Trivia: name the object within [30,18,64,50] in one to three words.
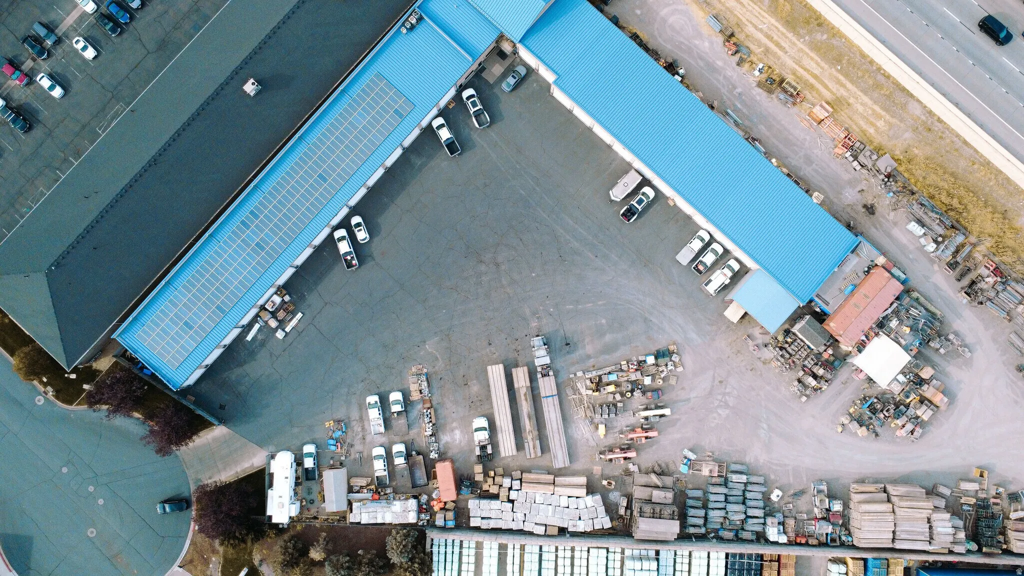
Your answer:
van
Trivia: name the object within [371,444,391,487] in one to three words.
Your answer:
vehicle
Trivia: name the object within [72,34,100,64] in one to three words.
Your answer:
car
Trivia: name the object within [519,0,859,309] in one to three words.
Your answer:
building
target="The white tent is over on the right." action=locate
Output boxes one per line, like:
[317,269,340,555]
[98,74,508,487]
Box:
[847,331,910,388]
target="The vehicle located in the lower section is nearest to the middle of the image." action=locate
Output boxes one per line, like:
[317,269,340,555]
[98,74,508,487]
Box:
[531,334,554,392]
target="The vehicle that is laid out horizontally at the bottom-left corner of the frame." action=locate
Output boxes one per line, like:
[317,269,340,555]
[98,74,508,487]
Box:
[157,497,190,513]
